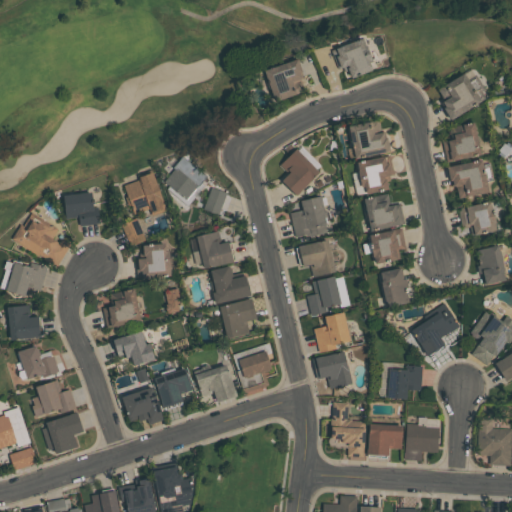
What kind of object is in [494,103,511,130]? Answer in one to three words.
swimming pool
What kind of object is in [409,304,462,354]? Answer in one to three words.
house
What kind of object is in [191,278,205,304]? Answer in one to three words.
swimming pool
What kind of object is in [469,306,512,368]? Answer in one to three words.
house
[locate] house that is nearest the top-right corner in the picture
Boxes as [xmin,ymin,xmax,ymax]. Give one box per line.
[440,72,488,116]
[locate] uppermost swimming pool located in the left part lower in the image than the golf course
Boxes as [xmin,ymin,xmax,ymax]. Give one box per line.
[148,218,169,234]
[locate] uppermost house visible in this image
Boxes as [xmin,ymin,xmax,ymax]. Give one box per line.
[332,38,376,77]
